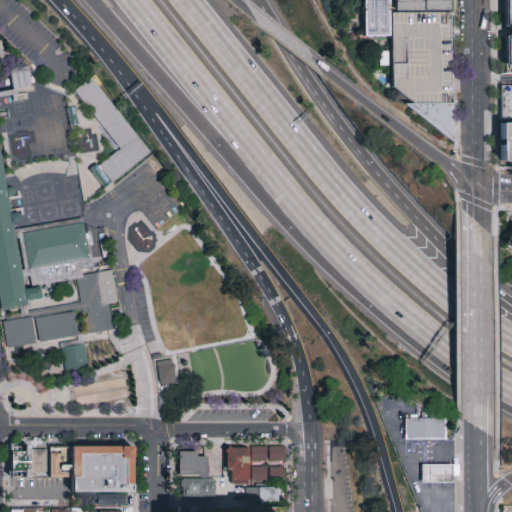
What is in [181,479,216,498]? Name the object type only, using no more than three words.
house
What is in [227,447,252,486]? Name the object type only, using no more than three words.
house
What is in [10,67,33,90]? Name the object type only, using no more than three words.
shed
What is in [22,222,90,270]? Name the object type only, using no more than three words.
building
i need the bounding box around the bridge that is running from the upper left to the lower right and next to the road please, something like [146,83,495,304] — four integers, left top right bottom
[228,0,457,190]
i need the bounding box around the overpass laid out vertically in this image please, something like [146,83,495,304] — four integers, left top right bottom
[457,193,500,440]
